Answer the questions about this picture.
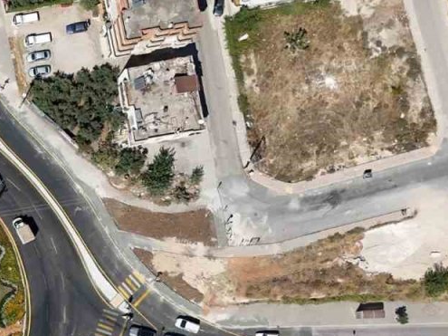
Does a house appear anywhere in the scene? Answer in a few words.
Yes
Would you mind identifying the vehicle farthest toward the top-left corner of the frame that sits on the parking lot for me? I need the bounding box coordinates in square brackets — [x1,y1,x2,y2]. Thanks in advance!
[14,9,40,25]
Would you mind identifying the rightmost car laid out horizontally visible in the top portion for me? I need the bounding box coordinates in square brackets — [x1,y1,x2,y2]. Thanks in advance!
[66,20,91,34]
